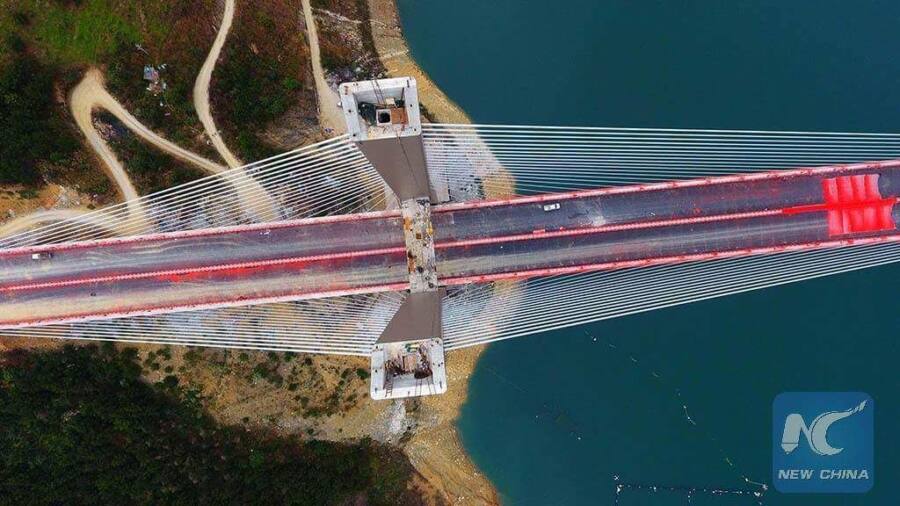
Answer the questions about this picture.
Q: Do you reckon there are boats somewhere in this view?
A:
No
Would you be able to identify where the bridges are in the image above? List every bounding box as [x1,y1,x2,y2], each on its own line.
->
[0,80,900,401]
